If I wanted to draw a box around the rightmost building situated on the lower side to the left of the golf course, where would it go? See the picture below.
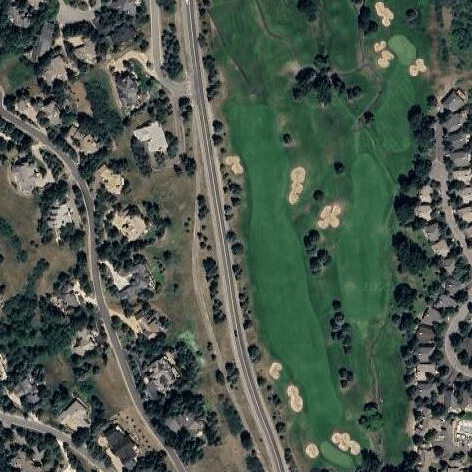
[167,407,202,436]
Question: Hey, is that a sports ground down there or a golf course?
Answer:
golf course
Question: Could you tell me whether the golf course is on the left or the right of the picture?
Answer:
right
